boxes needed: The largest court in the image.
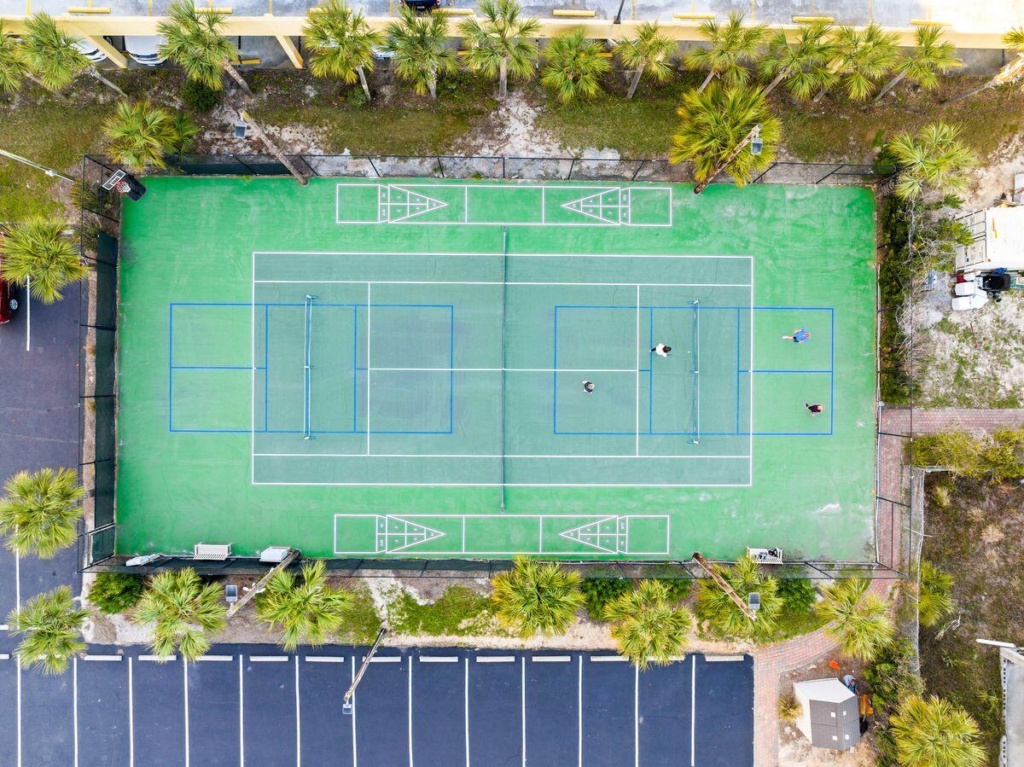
[115,178,877,562]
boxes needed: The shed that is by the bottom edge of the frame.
[793,677,861,754]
